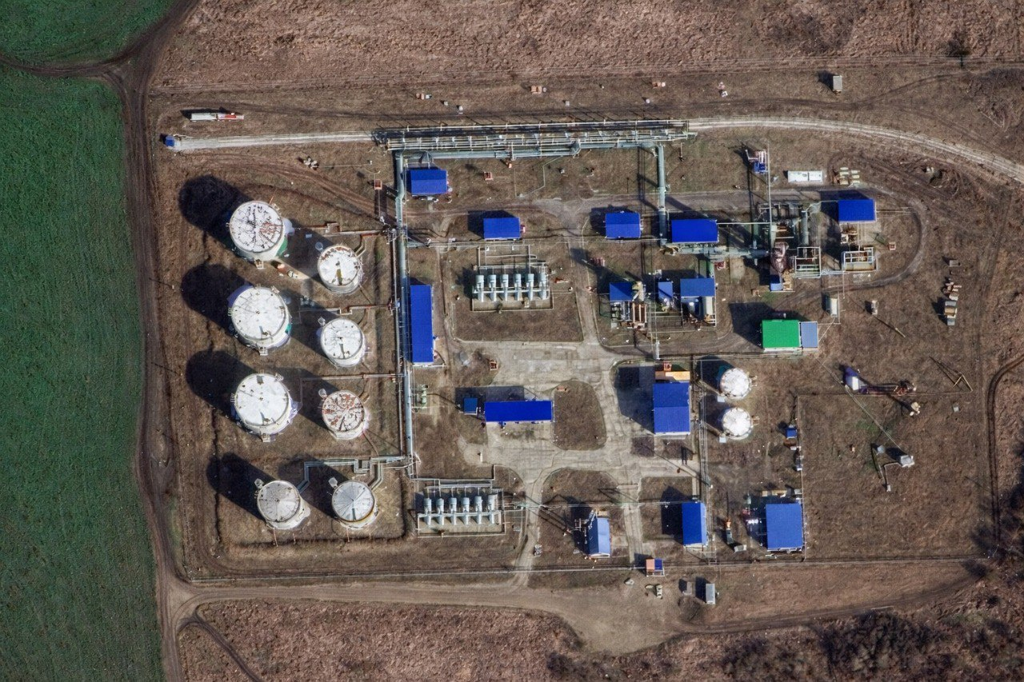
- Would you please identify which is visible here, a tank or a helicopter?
tank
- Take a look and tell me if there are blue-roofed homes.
Yes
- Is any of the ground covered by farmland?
Yes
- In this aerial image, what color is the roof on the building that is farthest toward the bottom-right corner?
blue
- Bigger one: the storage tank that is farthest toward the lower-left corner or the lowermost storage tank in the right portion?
the storage tank that is farthest toward the lower-left corner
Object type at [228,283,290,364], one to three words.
storage tank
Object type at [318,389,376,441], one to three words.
storage tank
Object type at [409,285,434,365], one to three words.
building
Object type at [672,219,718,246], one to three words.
house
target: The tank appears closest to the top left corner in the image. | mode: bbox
[226,200,288,276]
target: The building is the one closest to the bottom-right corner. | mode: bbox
[764,502,804,553]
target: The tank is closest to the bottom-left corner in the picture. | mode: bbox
[254,479,308,545]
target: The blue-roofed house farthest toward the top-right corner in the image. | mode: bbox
[838,199,877,225]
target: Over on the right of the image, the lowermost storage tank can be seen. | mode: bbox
[721,406,758,441]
